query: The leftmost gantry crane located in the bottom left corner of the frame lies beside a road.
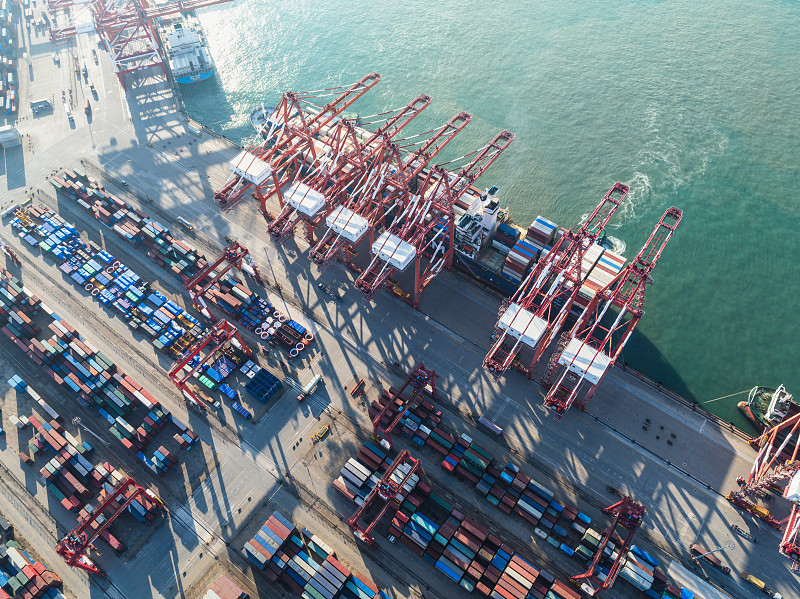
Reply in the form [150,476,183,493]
[56,477,170,579]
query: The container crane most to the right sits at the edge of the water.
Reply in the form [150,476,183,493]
[717,412,800,569]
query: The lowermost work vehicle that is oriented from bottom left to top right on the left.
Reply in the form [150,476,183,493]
[312,425,328,444]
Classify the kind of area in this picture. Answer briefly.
port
